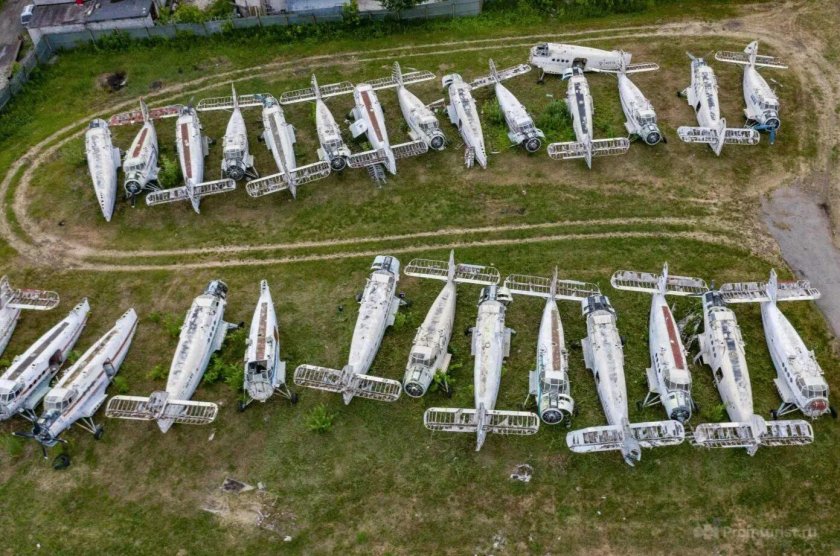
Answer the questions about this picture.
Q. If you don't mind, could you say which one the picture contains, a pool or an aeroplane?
aeroplane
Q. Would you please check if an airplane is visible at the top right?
Yes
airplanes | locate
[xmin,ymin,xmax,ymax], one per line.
[719,267,831,416]
[585,49,664,144]
[568,294,687,458]
[546,67,631,164]
[347,81,430,172]
[197,84,275,182]
[84,119,129,224]
[673,53,760,150]
[280,75,358,174]
[247,97,332,197]
[609,261,707,416]
[238,280,296,408]
[112,286,244,446]
[436,75,487,171]
[714,42,788,140]
[532,42,631,89]
[148,98,237,207]
[369,62,450,156]
[107,95,186,203]
[398,248,500,395]
[680,286,813,456]
[0,291,95,411]
[501,264,601,423]
[0,277,62,353]
[294,255,409,408]
[19,304,142,444]
[461,57,546,157]
[423,284,540,445]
